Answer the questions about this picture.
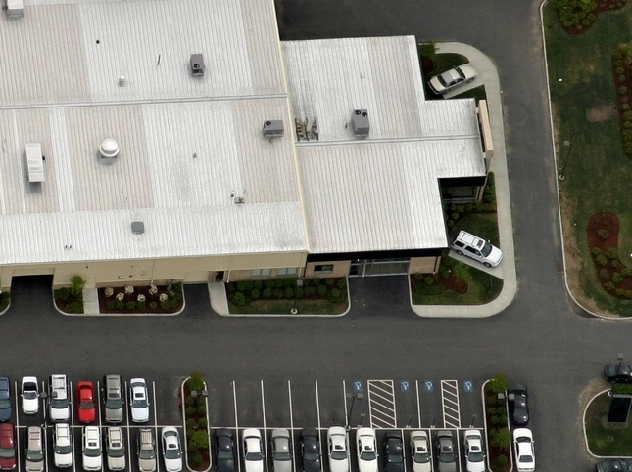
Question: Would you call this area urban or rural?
urban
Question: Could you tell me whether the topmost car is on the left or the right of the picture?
right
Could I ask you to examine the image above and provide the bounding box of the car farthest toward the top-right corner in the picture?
[426,65,480,96]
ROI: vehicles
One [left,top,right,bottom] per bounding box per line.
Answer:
[0,375,14,422]
[410,430,433,472]
[507,383,530,425]
[213,428,237,472]
[106,425,127,471]
[449,230,502,268]
[53,422,74,468]
[24,425,47,472]
[326,426,350,472]
[464,429,487,472]
[102,374,126,423]
[355,428,380,472]
[241,428,265,472]
[512,426,536,472]
[161,426,183,472]
[435,430,458,472]
[137,426,158,472]
[602,365,632,385]
[76,381,98,423]
[426,65,480,96]
[300,428,324,472]
[0,423,19,471]
[19,375,41,414]
[82,424,104,471]
[130,377,151,423]
[271,429,294,472]
[49,374,71,422]
[383,431,405,472]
